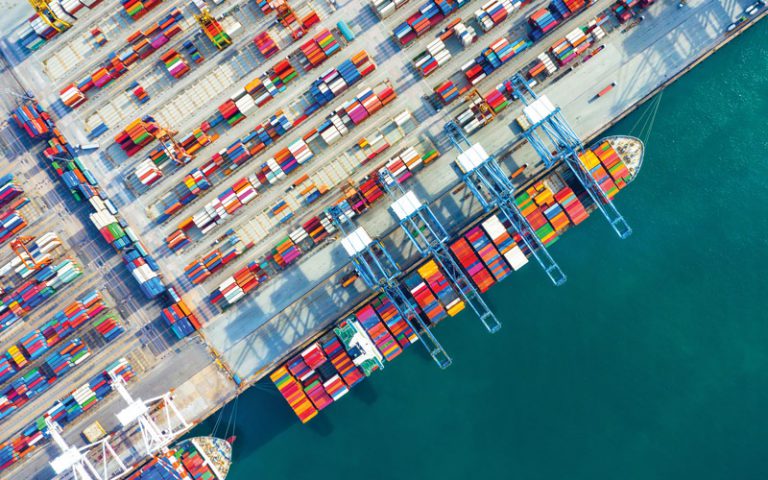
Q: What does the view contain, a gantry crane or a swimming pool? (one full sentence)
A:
Of the two, only a gantry crane appears.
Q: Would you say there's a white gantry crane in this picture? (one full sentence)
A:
Yes, there's a white gantry crane down there.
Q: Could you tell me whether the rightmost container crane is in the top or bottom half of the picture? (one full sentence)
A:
The top half of the photo is where the rightmost container crane is.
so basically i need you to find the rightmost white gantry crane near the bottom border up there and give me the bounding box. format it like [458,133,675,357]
[104,375,193,480]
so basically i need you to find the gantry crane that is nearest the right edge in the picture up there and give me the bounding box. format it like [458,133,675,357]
[508,70,634,236]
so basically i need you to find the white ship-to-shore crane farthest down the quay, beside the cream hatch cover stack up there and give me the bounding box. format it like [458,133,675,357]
[35,424,130,480]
